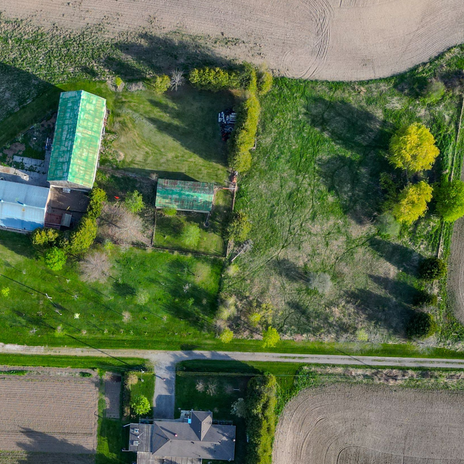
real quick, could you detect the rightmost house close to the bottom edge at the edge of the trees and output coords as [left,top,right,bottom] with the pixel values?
[152,411,236,461]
